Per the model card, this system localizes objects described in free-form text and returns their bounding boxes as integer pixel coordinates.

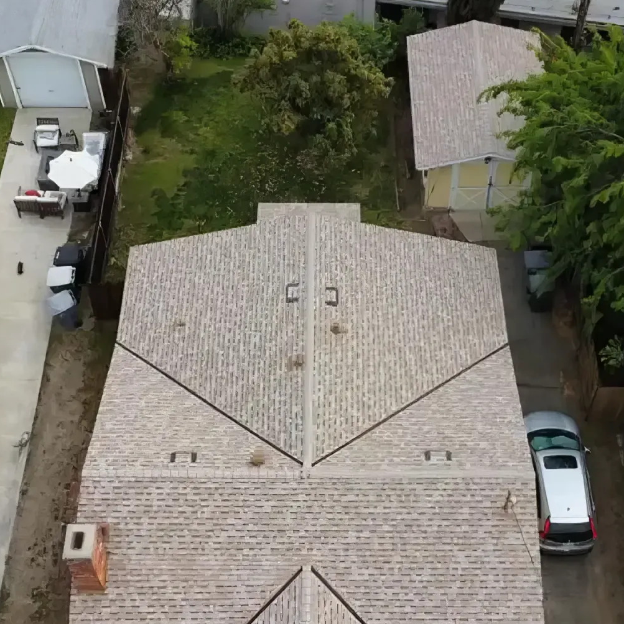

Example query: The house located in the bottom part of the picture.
[61,203,544,624]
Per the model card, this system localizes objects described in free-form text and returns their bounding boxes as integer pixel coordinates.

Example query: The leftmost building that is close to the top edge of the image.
[0,0,125,107]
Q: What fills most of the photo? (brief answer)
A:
buildings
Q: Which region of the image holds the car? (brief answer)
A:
bottom right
